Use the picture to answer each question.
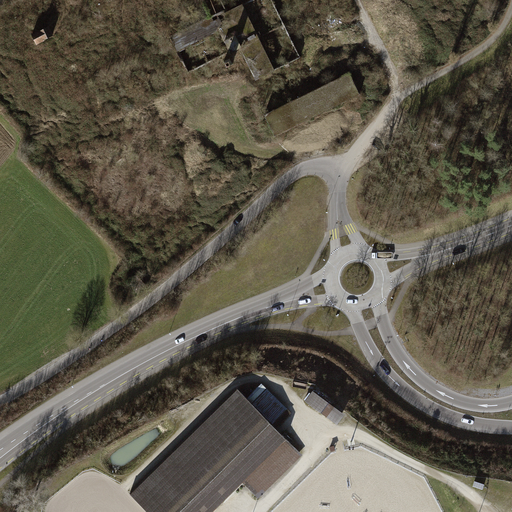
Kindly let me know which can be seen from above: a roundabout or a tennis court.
roundabout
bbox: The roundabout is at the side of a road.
[310,228,411,324]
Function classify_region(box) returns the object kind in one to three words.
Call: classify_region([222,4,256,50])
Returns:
building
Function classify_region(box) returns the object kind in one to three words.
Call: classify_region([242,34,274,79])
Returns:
building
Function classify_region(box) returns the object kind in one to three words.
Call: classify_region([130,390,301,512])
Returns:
barn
